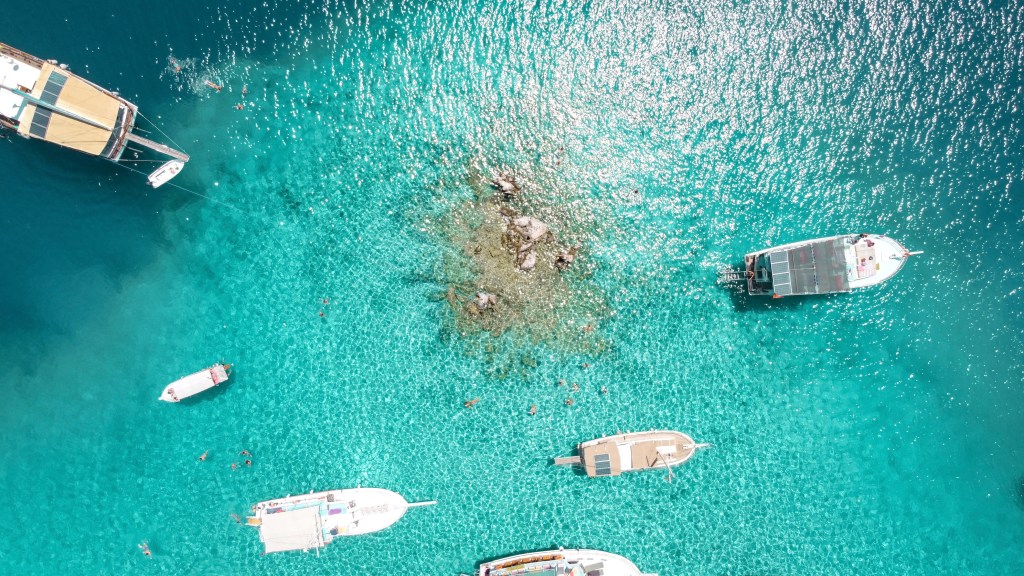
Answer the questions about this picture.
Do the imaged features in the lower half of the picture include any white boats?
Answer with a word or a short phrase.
Yes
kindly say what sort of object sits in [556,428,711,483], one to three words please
boat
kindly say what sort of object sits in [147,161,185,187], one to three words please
boat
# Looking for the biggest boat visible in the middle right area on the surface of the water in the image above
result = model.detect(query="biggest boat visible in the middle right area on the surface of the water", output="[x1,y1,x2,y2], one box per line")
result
[718,232,924,298]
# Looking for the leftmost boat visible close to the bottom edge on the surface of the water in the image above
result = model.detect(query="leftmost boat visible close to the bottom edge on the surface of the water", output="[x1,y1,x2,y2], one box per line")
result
[245,485,438,558]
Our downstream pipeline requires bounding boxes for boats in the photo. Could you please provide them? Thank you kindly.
[0,42,224,205]
[556,428,711,483]
[474,545,658,576]
[718,232,924,298]
[147,161,185,187]
[245,485,438,558]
